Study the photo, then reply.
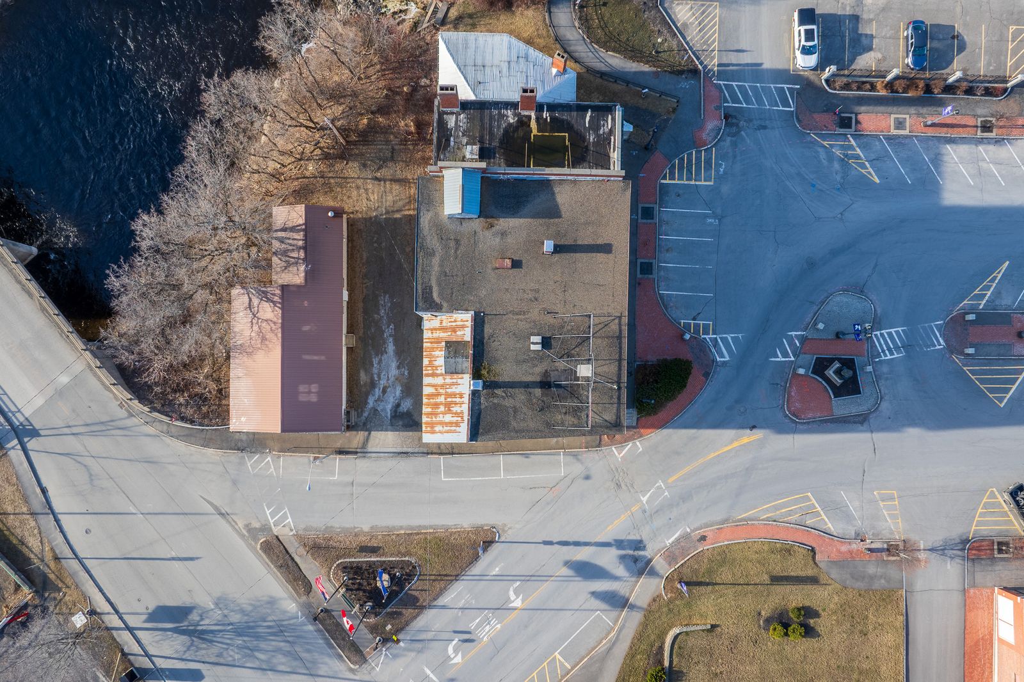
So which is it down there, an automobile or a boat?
automobile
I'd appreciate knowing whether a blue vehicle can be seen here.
Yes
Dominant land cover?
paved ground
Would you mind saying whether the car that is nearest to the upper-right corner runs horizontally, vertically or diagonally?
vertically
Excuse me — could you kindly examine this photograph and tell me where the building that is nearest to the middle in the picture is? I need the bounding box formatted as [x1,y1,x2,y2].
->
[414,162,631,443]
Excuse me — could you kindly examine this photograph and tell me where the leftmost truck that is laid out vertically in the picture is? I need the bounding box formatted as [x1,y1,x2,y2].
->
[793,9,823,71]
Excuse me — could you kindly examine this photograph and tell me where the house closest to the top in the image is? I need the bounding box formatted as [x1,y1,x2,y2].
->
[438,31,577,103]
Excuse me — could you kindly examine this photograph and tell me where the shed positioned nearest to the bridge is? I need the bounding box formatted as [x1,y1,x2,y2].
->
[229,204,353,434]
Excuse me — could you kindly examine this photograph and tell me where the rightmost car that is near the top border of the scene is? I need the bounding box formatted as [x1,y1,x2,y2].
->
[905,18,932,71]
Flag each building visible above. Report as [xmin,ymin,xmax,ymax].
[229,204,353,434]
[994,587,1024,682]
[438,31,577,103]
[414,162,631,443]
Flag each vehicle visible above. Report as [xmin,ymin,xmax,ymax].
[793,9,823,71]
[1006,479,1024,520]
[905,18,932,71]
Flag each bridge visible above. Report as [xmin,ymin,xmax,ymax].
[0,230,231,433]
